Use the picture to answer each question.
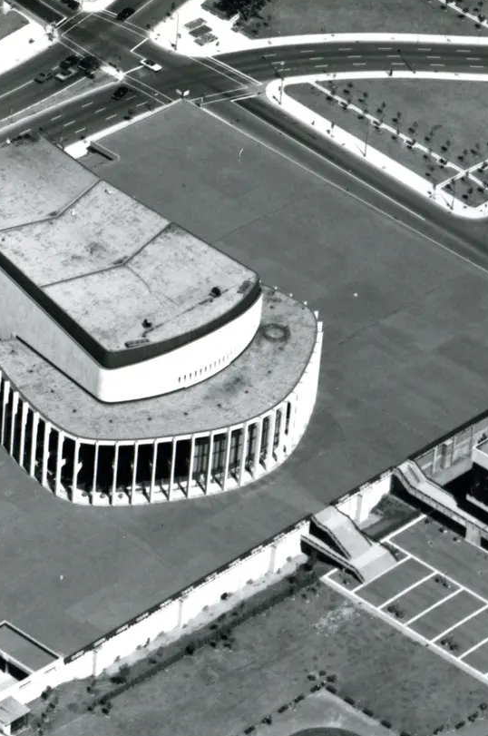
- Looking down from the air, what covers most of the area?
buildings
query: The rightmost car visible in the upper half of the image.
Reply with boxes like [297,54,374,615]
[139,59,164,74]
